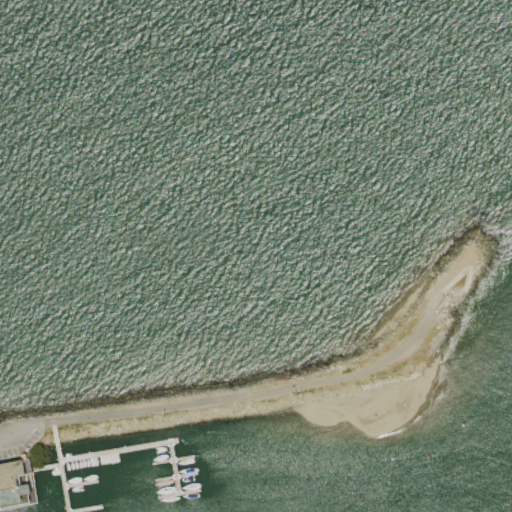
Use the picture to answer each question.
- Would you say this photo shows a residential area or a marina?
marina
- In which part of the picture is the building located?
bottom left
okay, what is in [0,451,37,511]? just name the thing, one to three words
building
